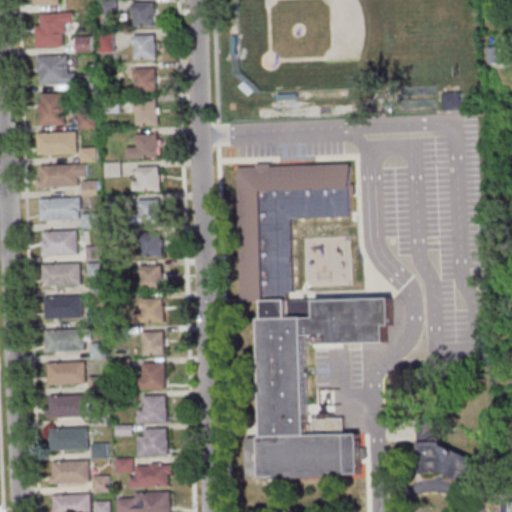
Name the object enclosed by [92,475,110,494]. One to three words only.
building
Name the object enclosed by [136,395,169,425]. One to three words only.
house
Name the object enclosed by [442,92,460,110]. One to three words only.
shed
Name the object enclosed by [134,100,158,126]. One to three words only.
house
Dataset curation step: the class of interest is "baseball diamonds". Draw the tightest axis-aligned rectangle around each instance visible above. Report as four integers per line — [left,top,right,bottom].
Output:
[260,0,478,90]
